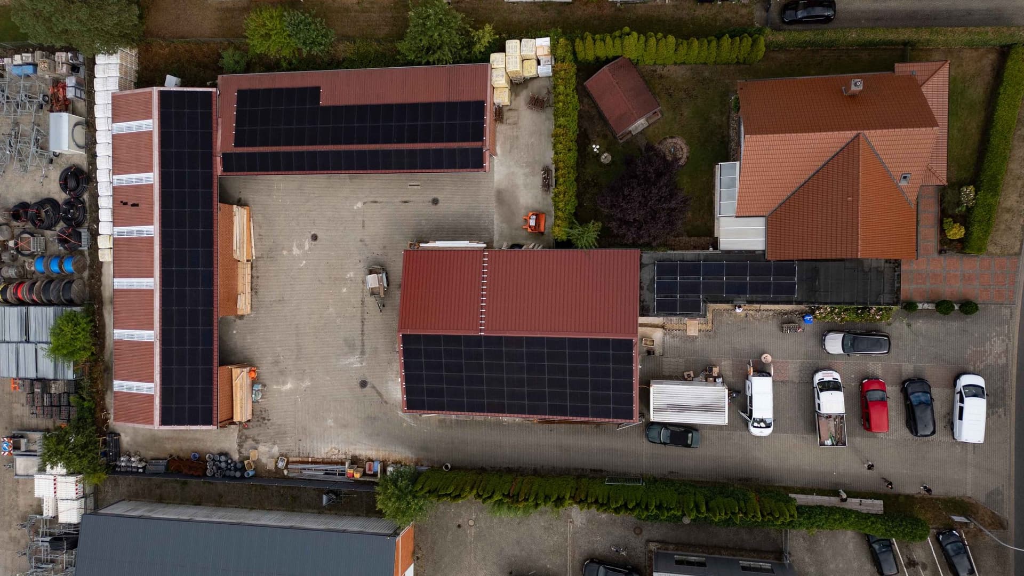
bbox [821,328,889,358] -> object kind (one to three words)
car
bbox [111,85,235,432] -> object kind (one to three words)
building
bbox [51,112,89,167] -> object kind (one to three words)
trailer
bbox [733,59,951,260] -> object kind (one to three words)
house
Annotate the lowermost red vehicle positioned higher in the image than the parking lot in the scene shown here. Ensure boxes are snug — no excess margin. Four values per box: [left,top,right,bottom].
[858,380,890,433]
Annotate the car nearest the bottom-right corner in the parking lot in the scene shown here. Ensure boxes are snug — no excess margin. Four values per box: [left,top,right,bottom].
[932,525,976,576]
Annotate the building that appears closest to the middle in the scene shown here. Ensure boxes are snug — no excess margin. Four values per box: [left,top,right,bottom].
[397,247,643,425]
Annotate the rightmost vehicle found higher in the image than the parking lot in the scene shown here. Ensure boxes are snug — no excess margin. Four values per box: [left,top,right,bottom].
[947,374,987,442]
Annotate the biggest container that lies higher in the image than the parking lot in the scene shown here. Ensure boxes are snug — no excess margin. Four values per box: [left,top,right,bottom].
[649,380,729,426]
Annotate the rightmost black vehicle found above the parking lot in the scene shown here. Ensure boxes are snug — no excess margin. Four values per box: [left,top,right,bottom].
[899,379,936,437]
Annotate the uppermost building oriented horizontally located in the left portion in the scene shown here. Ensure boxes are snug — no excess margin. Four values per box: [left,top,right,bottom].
[216,62,496,178]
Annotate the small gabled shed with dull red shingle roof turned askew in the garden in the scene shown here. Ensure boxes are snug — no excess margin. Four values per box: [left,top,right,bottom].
[584,57,661,139]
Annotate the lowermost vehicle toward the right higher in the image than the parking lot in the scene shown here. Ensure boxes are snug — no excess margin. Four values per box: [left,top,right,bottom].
[645,422,700,449]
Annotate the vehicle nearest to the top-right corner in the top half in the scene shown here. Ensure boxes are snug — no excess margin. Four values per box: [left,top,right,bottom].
[777,0,840,27]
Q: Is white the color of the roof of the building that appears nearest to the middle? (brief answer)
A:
No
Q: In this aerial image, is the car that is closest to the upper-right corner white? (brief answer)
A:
No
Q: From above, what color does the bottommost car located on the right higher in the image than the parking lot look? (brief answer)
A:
black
